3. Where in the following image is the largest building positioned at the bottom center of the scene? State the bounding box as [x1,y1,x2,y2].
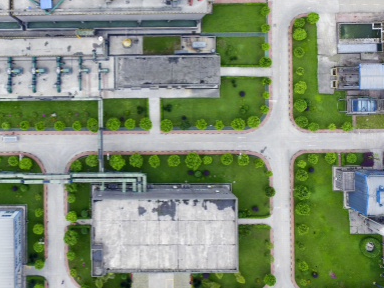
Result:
[92,191,239,273]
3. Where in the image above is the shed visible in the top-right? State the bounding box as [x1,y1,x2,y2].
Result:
[351,63,384,90]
